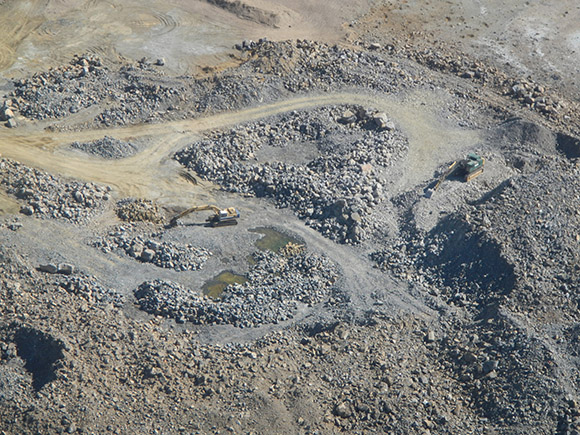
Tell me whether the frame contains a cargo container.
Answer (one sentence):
No, no cargo container is visible in the view.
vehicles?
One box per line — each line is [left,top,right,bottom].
[427,155,483,194]
[171,204,240,228]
